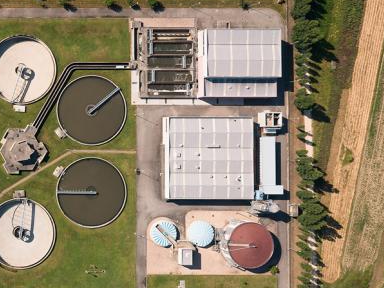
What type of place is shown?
industrial area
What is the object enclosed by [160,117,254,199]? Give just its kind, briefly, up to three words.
building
